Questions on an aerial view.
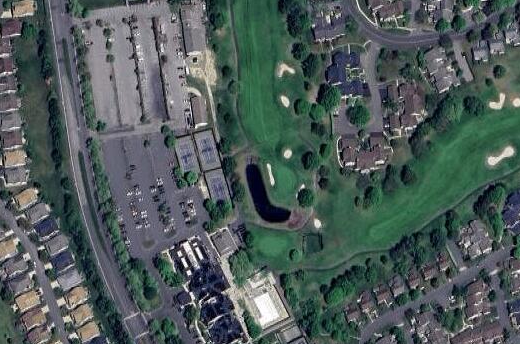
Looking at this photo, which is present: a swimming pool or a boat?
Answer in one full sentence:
The one in the frame is a swimming pool.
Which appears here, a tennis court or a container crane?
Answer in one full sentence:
There is a tennis court in the scene.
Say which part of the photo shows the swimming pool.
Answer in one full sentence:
Look in the bottom portion of the view to spot the swimming pool.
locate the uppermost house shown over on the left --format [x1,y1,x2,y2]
[14,0,35,19]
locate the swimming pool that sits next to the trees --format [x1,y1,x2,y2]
[245,272,288,333]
